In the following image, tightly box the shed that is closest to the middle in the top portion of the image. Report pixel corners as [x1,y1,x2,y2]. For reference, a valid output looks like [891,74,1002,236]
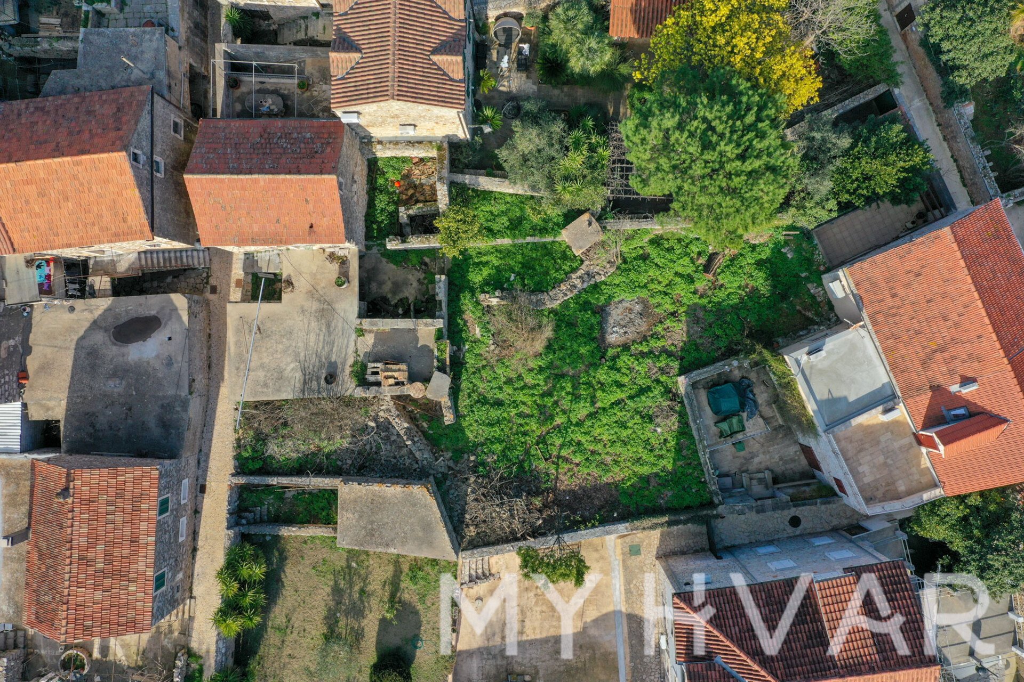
[562,213,603,256]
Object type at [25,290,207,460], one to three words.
building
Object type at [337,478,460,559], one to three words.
building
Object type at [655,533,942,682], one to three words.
house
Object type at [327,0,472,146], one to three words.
house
